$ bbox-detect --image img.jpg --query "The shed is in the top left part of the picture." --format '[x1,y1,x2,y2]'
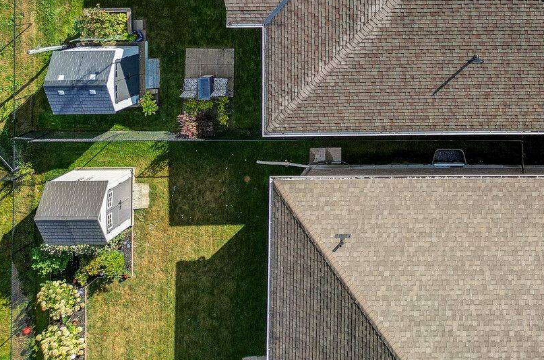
[42,47,137,112]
